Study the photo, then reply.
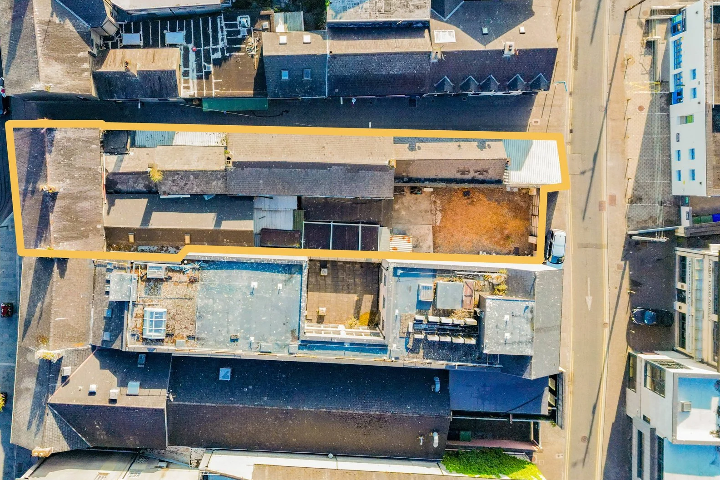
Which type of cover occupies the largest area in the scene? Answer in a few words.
buildings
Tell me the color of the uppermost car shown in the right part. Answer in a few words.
white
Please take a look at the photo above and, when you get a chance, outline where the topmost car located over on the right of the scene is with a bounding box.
[545,228,568,268]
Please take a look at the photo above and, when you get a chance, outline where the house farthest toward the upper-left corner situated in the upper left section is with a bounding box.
[0,0,122,106]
